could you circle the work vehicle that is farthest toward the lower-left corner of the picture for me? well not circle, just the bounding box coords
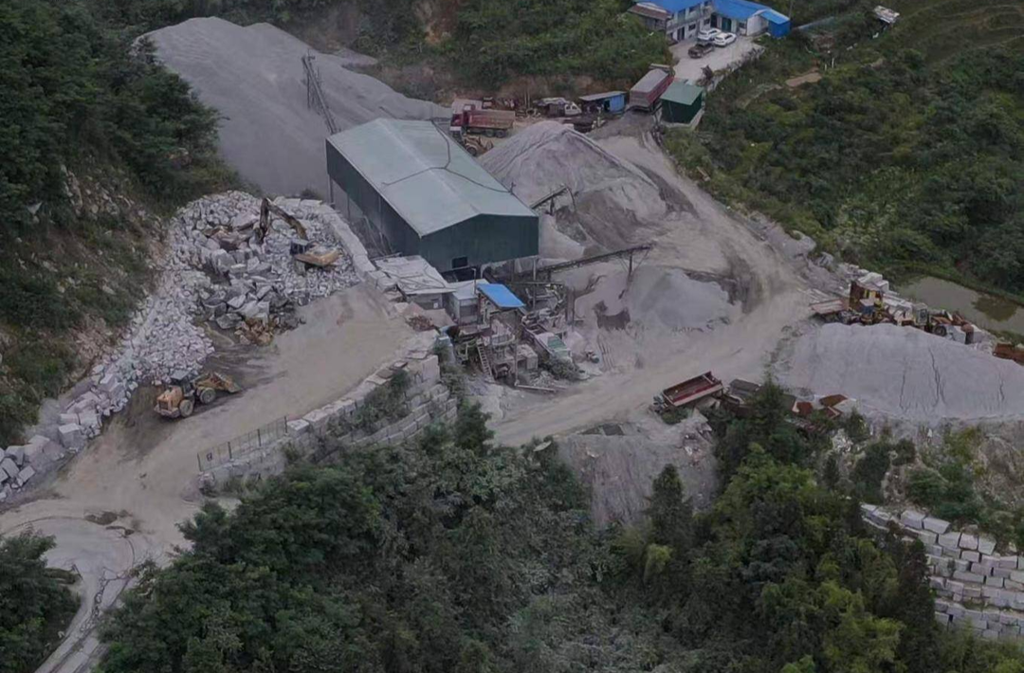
[162,362,248,415]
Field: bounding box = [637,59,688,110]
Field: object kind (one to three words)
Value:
truck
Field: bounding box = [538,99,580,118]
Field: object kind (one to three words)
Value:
vehicle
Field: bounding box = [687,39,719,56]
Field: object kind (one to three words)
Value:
vehicle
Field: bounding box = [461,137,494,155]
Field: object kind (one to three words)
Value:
work vehicle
